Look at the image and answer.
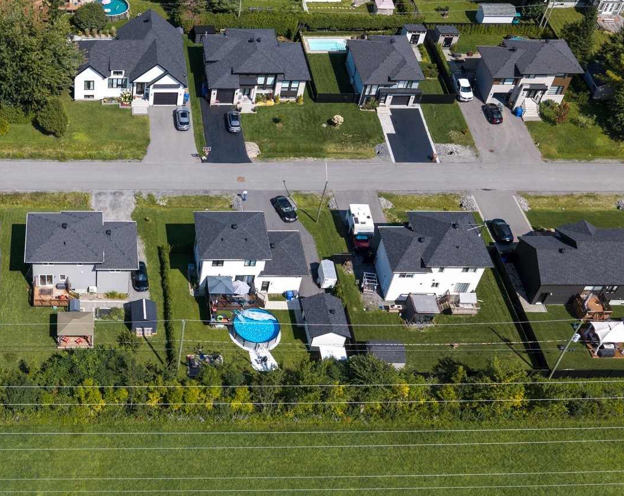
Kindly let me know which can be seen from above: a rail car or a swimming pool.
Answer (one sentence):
There is a swimming pool in the scene.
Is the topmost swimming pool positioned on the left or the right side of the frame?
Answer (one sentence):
The topmost swimming pool is on the left side of the image.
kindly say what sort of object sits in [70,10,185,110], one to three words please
house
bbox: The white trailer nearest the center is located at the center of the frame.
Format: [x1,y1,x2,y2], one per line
[316,256,341,291]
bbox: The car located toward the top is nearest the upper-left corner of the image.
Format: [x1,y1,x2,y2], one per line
[175,110,191,129]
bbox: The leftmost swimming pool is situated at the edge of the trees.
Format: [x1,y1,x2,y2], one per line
[94,0,130,24]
